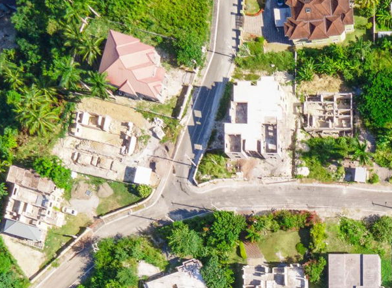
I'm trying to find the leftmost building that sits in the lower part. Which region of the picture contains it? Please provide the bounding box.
[2,164,79,251]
